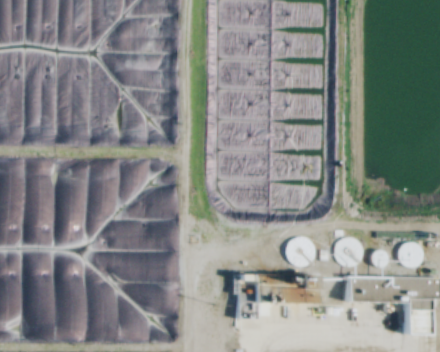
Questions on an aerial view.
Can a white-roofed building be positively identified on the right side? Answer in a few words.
Yes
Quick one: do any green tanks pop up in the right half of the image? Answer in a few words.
No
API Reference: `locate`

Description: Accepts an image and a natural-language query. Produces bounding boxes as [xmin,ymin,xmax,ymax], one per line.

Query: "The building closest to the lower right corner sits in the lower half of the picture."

[400,302,436,335]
